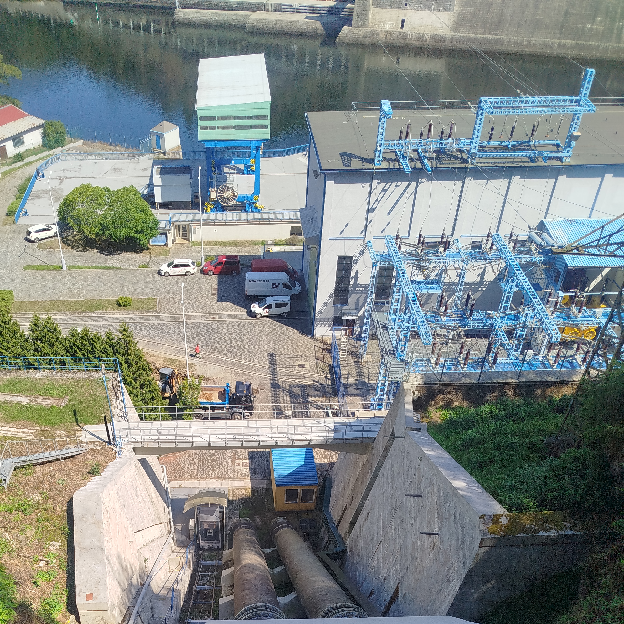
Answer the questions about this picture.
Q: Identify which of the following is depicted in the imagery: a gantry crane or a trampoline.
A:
gantry crane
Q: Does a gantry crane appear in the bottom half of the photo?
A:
No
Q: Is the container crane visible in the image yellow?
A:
No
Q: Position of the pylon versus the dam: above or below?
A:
below it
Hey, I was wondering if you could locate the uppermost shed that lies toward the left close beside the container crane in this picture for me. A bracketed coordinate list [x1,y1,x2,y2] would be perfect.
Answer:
[151,119,183,156]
